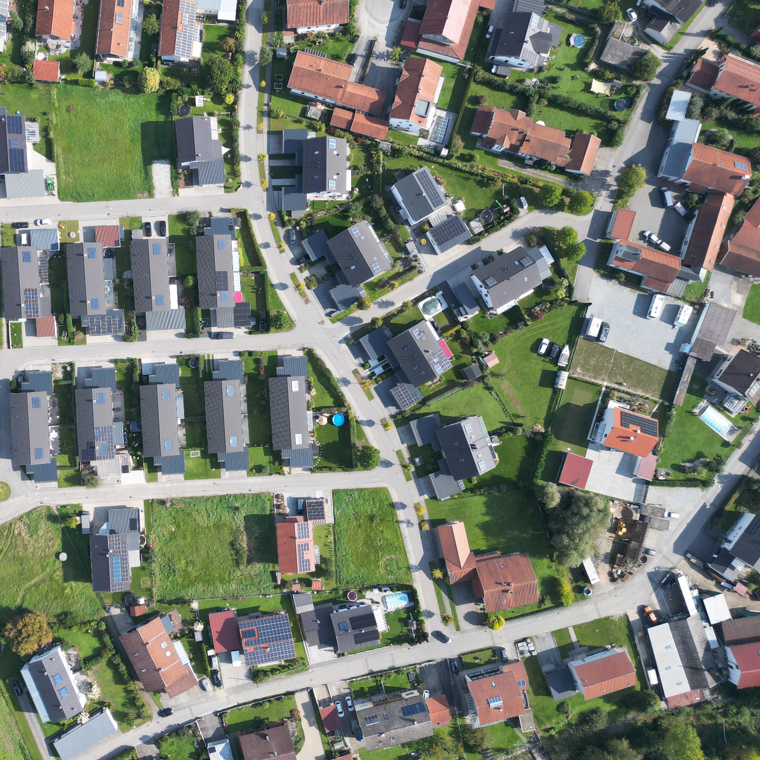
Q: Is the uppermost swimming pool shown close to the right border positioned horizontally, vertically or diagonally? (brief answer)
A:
diagonally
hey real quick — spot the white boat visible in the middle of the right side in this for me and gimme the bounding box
[557,345,569,366]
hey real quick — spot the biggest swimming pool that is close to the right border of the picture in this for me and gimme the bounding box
[696,402,738,439]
